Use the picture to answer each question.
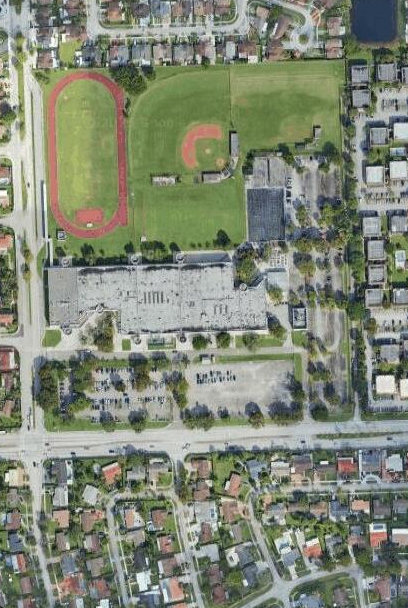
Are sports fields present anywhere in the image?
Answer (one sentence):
Yes, you can see a sports field in this photo.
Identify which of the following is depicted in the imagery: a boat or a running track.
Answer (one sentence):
The one in the frame is a running track.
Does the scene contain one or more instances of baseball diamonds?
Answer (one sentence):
Yes, a baseball diamond is visible in the scene.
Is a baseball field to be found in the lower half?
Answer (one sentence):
No, no baseball field can be made out in the lower half.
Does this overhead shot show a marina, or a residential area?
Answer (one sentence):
This image shows a residential area.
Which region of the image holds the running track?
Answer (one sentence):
The running track is located in the top left region of the scene.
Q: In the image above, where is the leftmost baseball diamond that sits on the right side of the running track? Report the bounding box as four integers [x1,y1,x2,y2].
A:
[132,69,242,186]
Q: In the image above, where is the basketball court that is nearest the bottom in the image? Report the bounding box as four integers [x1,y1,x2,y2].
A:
[247,187,286,242]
